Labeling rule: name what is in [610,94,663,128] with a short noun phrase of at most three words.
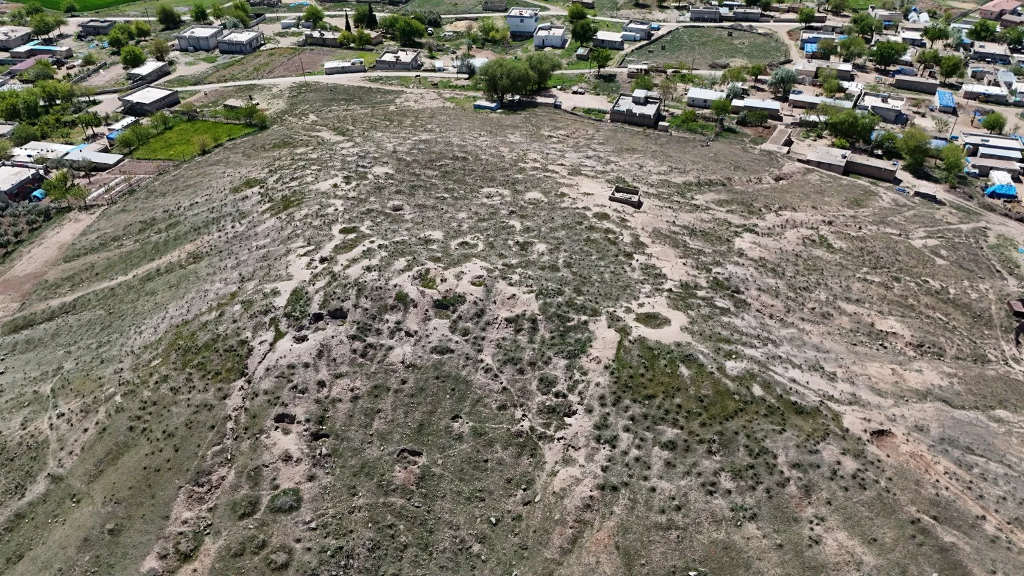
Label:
house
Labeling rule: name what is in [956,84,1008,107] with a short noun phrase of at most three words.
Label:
house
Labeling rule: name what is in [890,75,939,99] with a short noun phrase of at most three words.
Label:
barn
